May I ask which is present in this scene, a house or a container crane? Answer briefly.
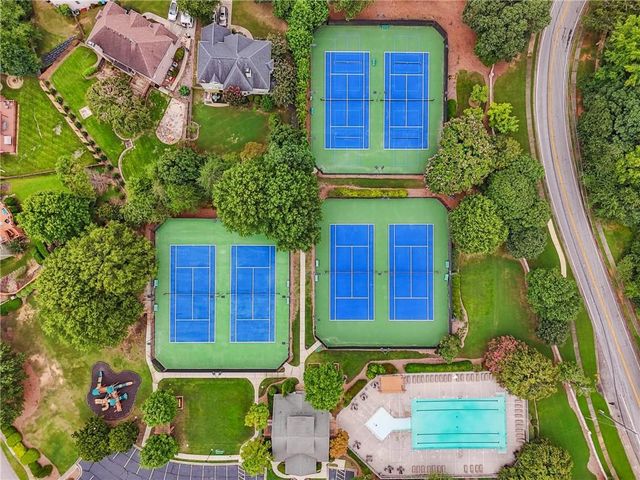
house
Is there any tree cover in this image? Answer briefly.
Yes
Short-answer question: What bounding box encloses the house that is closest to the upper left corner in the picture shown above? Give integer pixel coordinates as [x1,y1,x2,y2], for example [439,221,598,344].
[86,0,182,82]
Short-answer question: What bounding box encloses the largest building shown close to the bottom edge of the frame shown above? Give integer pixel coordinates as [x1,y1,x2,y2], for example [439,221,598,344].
[271,393,331,476]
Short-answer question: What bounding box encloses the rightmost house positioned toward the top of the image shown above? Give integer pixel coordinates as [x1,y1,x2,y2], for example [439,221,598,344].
[198,22,274,94]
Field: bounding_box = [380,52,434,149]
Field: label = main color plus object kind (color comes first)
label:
blue tennis court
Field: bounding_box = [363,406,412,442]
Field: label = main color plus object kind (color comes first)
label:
white swimming pool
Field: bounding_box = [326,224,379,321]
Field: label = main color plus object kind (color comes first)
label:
blue tennis court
